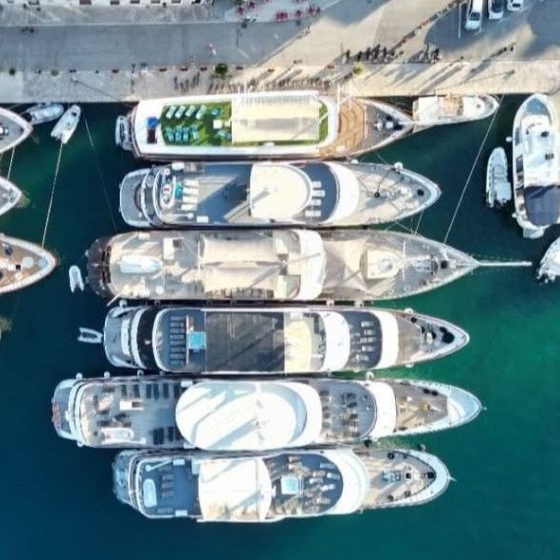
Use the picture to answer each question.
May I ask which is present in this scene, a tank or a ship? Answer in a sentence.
I can see a ship in this picture.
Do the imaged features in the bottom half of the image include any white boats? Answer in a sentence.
Yes, in the bottom half of the image there is a white boat.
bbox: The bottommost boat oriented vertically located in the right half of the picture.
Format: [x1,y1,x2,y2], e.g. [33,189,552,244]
[536,239,560,286]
